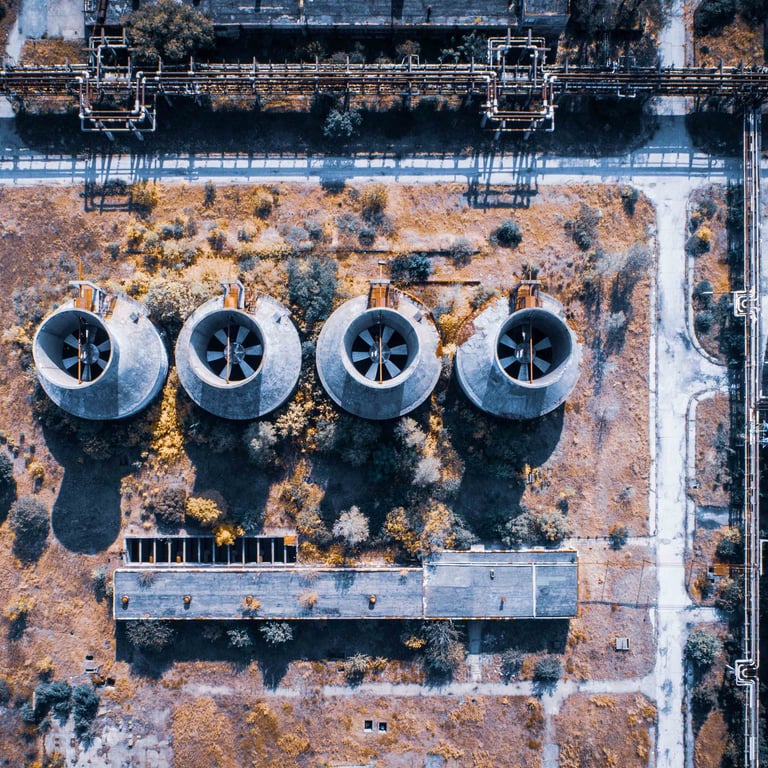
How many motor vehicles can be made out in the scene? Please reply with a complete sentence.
The photo contains no motor vehicles.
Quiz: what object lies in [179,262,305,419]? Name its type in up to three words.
cooling tower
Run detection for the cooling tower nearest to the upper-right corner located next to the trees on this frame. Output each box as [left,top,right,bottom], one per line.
[456,262,582,419]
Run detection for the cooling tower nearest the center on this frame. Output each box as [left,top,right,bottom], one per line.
[319,262,445,419]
